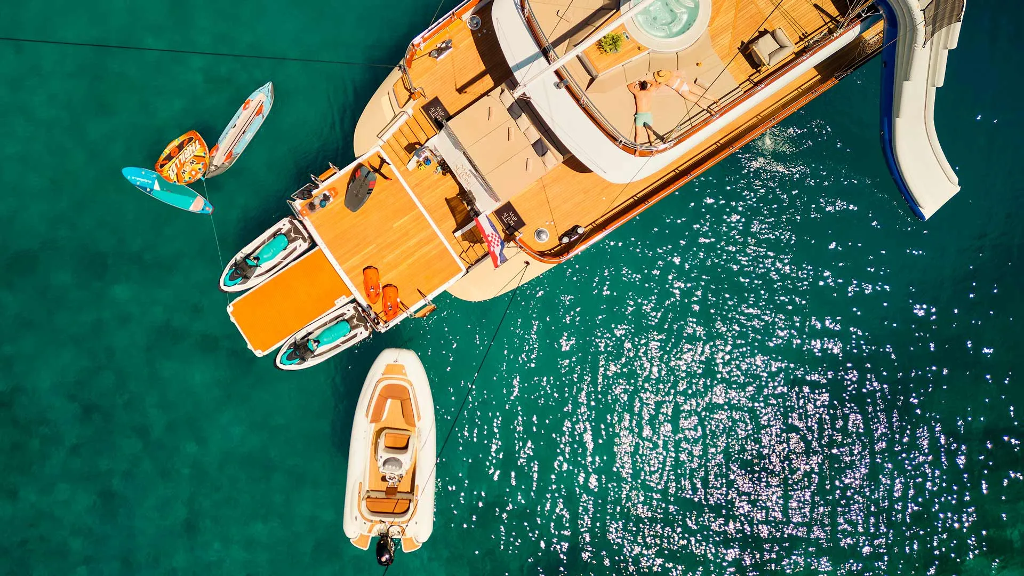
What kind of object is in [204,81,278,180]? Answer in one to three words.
boat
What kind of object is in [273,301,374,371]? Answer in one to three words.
boat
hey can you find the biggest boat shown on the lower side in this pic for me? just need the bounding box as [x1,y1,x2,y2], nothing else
[346,348,437,568]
